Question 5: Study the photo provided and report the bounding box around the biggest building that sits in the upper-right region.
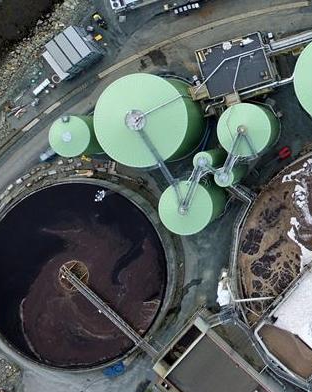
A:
[194,31,277,100]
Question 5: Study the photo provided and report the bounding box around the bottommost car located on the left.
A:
[40,147,58,161]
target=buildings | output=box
[43,25,104,81]
[163,329,273,392]
[194,31,277,100]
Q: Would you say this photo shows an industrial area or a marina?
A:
industrial area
